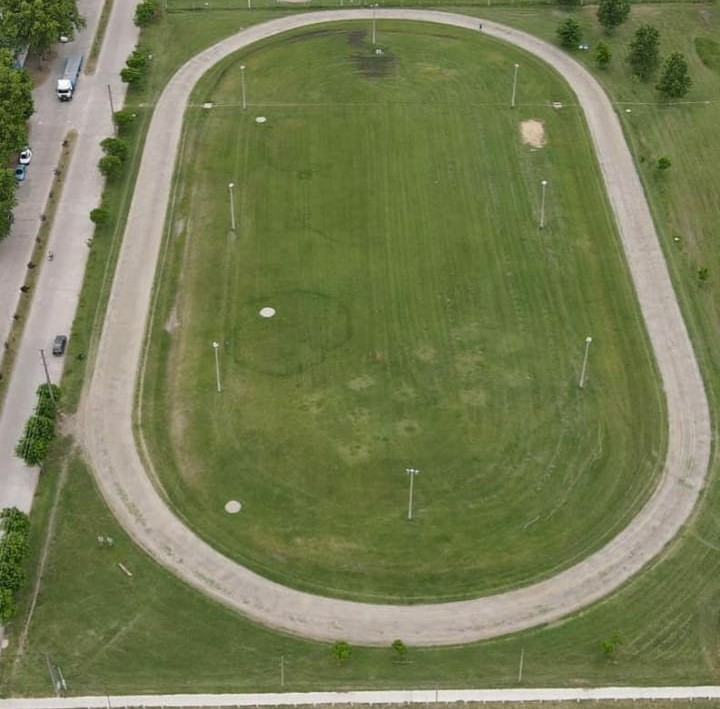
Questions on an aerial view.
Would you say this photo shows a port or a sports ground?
sports ground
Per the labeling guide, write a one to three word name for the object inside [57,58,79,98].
truck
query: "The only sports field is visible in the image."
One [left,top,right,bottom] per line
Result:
[131,19,669,605]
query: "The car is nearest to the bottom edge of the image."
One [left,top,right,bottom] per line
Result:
[52,336,66,356]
